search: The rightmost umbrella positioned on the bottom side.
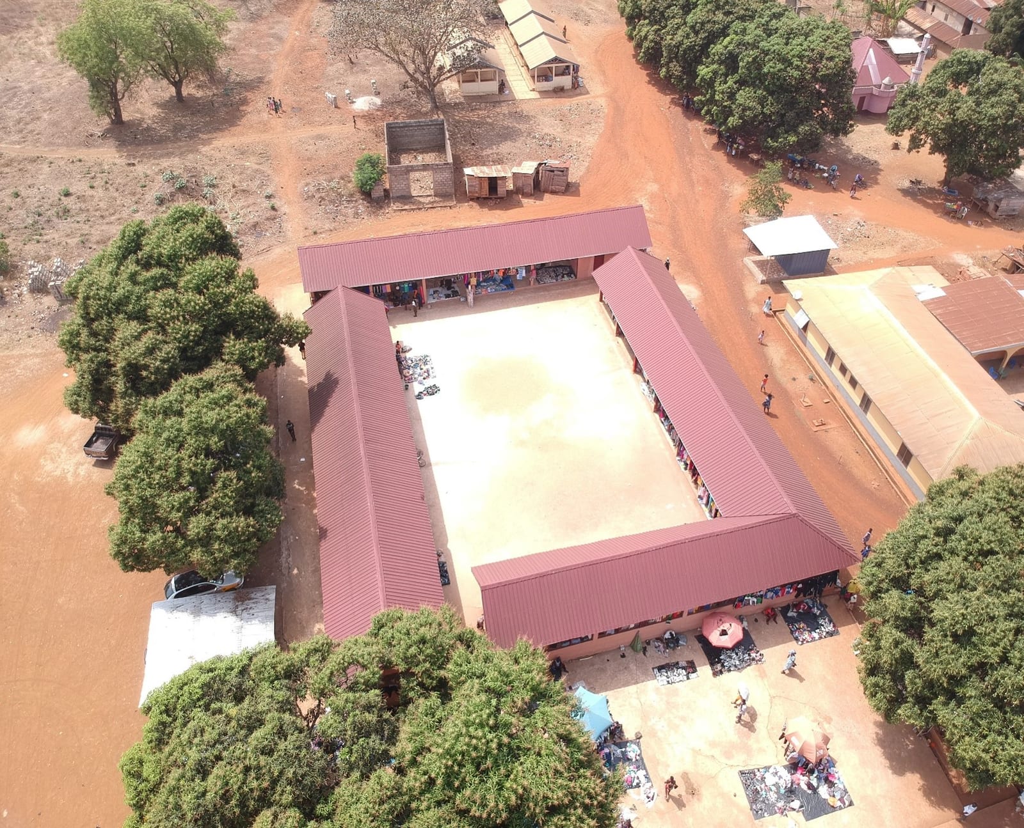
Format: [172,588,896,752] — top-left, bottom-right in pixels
[776,716,830,766]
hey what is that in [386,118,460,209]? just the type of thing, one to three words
building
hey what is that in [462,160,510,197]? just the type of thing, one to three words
shed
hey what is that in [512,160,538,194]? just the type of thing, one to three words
shed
